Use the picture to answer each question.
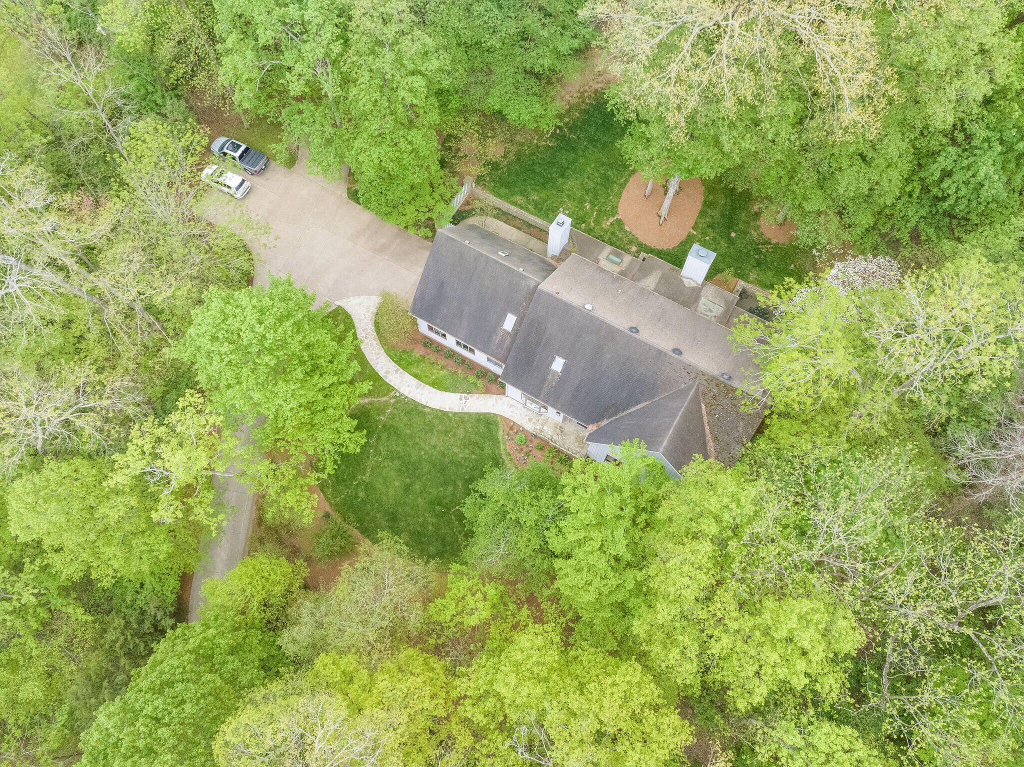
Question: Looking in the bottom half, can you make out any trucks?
No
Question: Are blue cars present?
No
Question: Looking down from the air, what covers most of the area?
trees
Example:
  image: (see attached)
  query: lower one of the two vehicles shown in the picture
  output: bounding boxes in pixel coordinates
[198,170,250,205]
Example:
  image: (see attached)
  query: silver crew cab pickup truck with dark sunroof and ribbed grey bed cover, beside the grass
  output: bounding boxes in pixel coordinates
[209,134,272,177]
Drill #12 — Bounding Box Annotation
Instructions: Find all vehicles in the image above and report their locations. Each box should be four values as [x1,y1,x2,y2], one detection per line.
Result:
[198,170,250,205]
[209,134,272,177]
